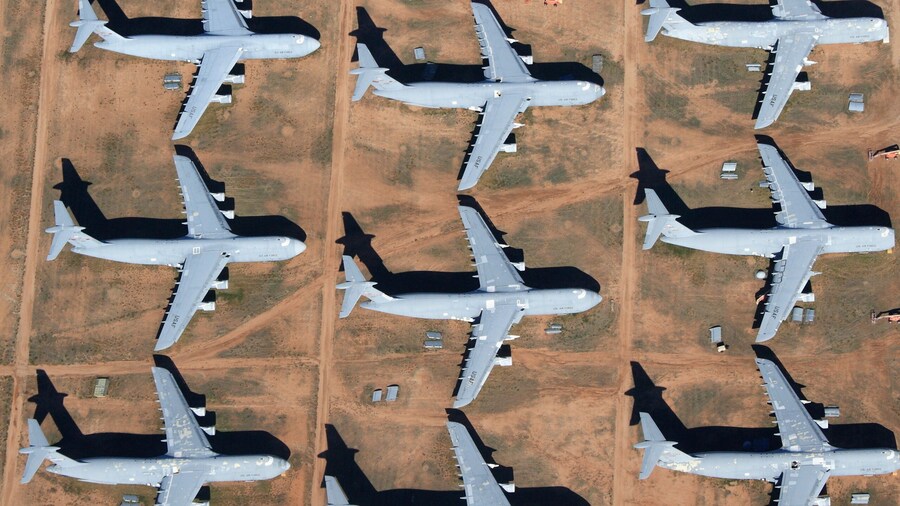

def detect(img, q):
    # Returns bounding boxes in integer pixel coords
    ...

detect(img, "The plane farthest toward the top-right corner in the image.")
[641,0,888,128]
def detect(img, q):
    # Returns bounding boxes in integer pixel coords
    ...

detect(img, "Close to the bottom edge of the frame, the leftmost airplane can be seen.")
[19,366,290,506]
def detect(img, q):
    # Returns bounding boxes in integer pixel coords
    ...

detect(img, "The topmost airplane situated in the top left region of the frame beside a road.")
[69,0,321,140]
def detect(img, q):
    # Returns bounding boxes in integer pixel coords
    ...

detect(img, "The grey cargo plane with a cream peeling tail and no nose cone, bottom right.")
[635,358,900,506]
